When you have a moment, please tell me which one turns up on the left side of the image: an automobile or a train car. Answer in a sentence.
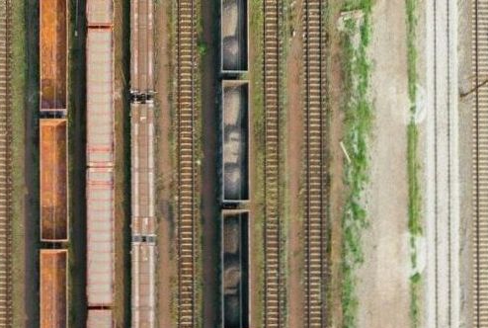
What appears on the left side of the image is a train car.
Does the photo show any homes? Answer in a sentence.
No, I can see no home in this picture.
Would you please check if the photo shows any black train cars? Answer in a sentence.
Yes, there's a black train car here.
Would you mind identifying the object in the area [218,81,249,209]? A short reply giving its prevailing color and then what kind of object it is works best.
black rail car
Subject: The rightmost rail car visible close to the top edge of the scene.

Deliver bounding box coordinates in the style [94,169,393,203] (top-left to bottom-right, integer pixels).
[217,0,248,83]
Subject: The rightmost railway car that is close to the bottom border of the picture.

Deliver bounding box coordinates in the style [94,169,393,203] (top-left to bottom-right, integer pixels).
[218,209,249,328]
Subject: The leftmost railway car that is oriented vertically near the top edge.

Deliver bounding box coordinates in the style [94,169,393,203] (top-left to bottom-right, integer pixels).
[40,0,67,120]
